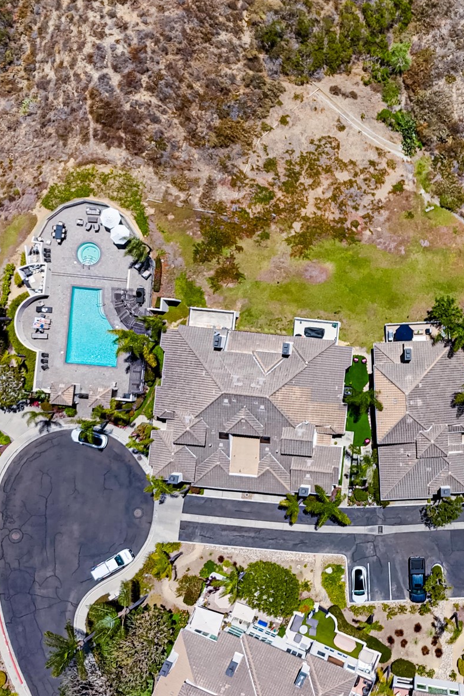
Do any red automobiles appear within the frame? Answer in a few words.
No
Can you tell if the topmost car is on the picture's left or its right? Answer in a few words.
left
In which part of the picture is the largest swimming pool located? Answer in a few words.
left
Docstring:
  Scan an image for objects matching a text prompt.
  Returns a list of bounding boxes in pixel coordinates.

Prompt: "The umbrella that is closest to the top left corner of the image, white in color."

[101,208,121,228]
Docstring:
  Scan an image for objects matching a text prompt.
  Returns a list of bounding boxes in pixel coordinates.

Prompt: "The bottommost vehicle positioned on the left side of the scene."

[89,550,136,580]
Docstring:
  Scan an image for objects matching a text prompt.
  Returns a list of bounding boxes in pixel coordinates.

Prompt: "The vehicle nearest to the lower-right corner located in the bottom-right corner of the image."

[408,556,425,602]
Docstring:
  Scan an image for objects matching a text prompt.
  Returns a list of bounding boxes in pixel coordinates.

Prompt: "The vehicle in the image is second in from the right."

[349,565,368,601]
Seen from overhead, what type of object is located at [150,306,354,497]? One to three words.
house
